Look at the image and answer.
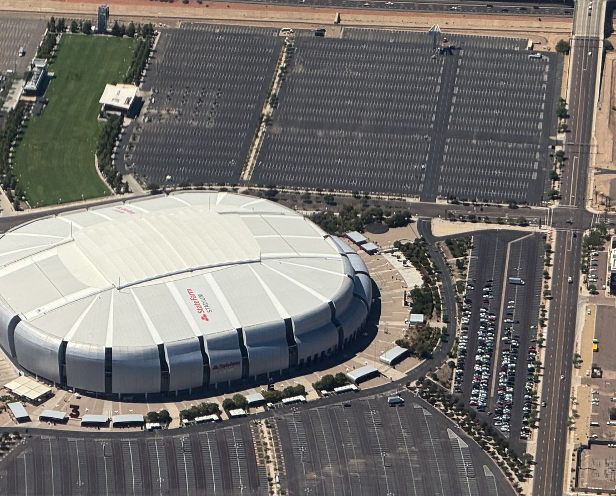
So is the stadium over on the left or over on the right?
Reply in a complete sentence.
The stadium appears in the left half of the scene.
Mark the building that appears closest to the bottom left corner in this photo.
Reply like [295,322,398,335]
[4,375,51,401]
